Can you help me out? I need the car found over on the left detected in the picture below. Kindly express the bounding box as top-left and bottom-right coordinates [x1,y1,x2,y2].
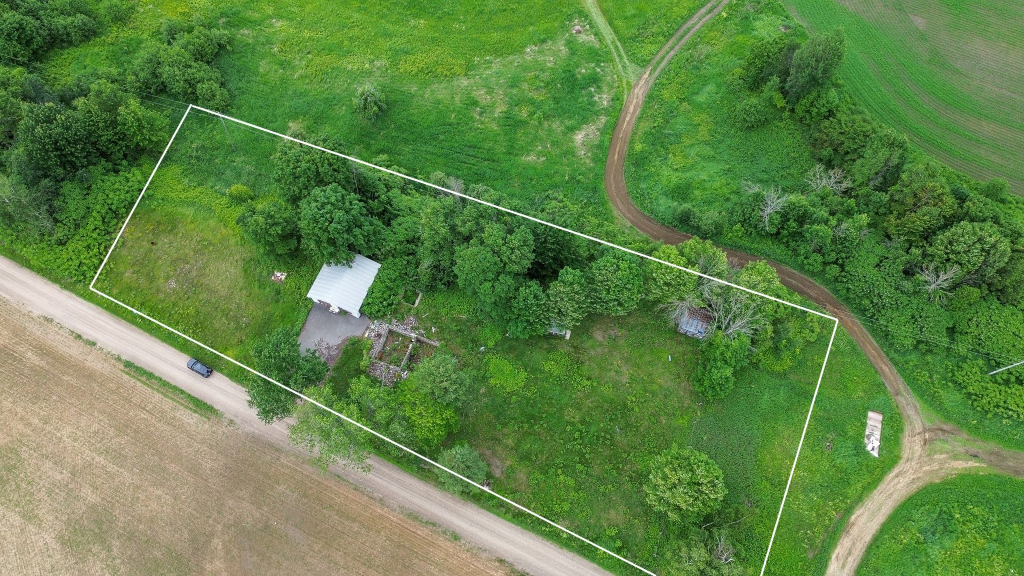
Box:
[186,360,216,378]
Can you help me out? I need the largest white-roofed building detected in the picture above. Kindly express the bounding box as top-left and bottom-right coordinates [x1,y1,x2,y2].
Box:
[307,250,378,313]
